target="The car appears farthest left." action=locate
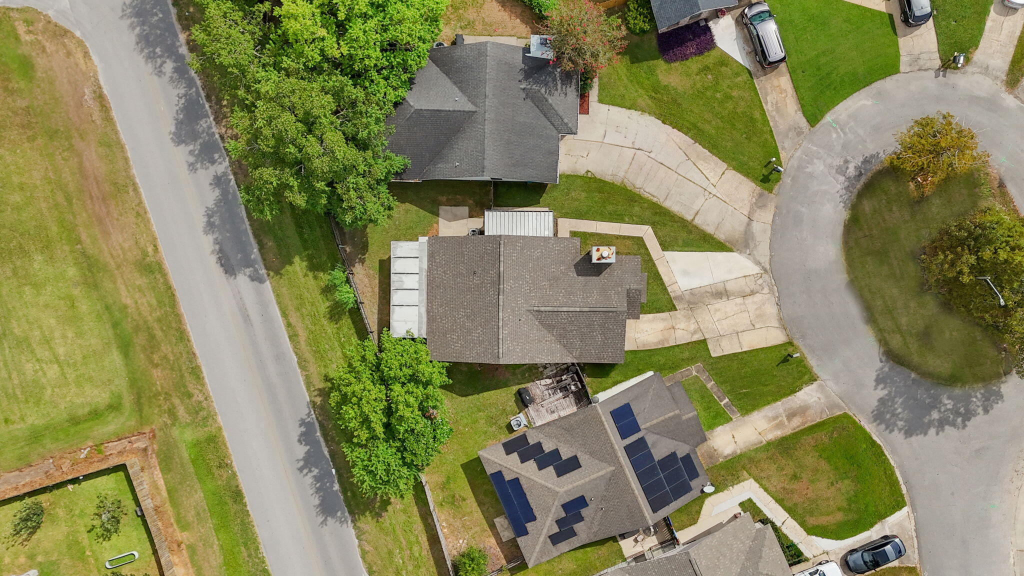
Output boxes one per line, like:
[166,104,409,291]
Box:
[746,2,787,73]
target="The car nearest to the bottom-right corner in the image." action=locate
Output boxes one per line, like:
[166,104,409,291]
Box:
[844,538,911,576]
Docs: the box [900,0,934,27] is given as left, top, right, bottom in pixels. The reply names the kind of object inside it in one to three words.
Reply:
car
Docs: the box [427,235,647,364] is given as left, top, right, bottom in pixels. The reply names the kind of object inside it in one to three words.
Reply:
house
